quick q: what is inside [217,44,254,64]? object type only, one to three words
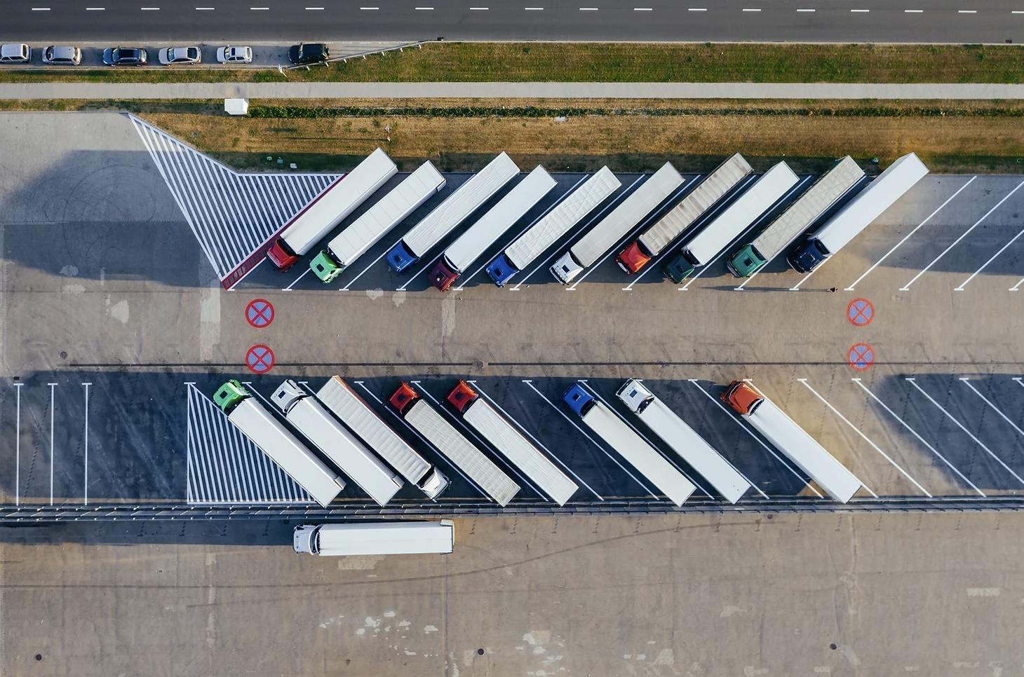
car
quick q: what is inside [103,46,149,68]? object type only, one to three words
car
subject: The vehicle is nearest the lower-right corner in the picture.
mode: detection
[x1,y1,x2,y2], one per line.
[722,379,862,504]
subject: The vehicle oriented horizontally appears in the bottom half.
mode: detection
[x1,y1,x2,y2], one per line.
[297,519,455,556]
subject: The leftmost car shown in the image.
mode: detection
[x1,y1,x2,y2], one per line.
[0,43,34,65]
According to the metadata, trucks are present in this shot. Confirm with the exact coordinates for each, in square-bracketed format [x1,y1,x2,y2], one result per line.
[787,152,930,274]
[311,160,449,283]
[264,147,400,273]
[317,376,452,500]
[722,379,862,504]
[444,379,579,506]
[617,151,754,275]
[387,380,521,507]
[297,519,455,556]
[561,381,697,507]
[725,155,865,281]
[550,161,685,287]
[385,151,520,276]
[271,379,406,507]
[426,165,557,291]
[485,165,622,289]
[214,381,349,507]
[662,161,800,284]
[617,377,751,504]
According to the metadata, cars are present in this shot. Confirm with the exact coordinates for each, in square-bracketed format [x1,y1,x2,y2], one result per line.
[159,45,204,66]
[42,44,84,66]
[217,44,254,64]
[288,42,330,64]
[0,43,34,65]
[103,46,149,68]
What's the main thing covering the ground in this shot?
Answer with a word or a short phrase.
paved ground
